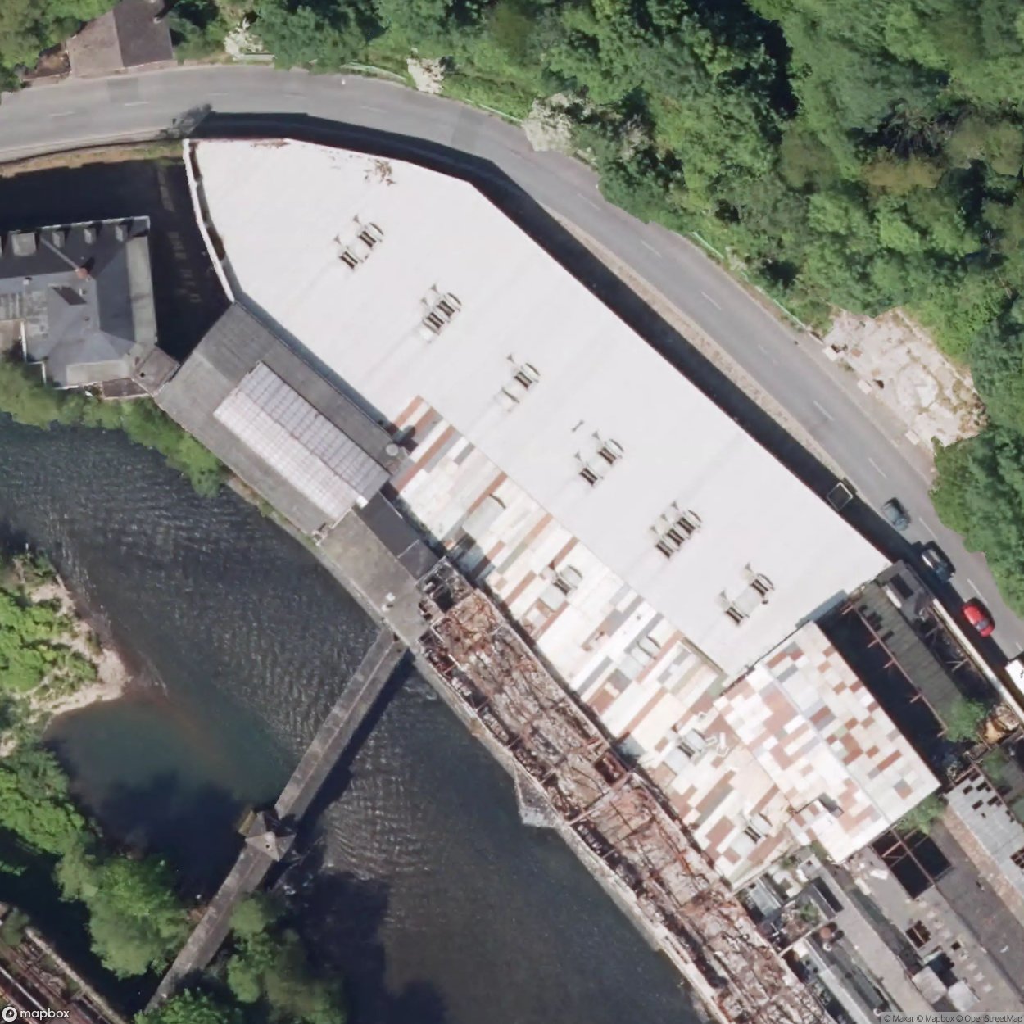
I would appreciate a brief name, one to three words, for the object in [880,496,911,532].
car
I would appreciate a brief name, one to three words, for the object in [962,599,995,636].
car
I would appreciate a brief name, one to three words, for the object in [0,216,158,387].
house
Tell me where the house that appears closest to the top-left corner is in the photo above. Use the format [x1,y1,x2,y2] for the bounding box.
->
[68,0,175,77]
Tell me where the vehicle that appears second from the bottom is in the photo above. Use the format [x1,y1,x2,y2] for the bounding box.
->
[922,546,955,584]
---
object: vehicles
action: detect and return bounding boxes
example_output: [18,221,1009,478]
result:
[922,546,955,584]
[880,496,911,532]
[962,599,995,636]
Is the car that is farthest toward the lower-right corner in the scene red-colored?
Yes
